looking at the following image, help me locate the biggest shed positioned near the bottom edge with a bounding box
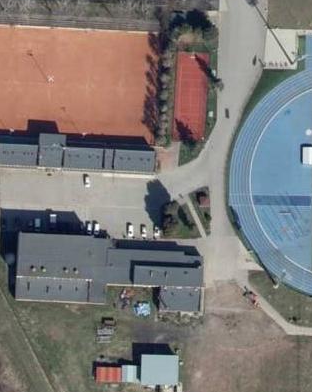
[138,354,178,386]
